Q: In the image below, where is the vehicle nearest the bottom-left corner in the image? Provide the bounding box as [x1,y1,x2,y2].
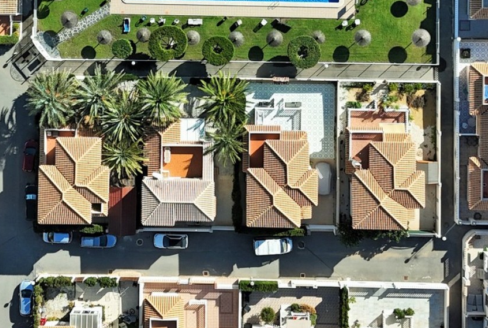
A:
[18,278,36,316]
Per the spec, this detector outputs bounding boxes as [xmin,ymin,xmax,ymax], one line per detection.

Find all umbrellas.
[97,30,112,45]
[265,30,282,46]
[311,30,326,44]
[229,31,243,46]
[61,11,79,29]
[354,29,371,45]
[137,29,150,43]
[186,30,201,43]
[411,29,430,47]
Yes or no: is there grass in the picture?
Yes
